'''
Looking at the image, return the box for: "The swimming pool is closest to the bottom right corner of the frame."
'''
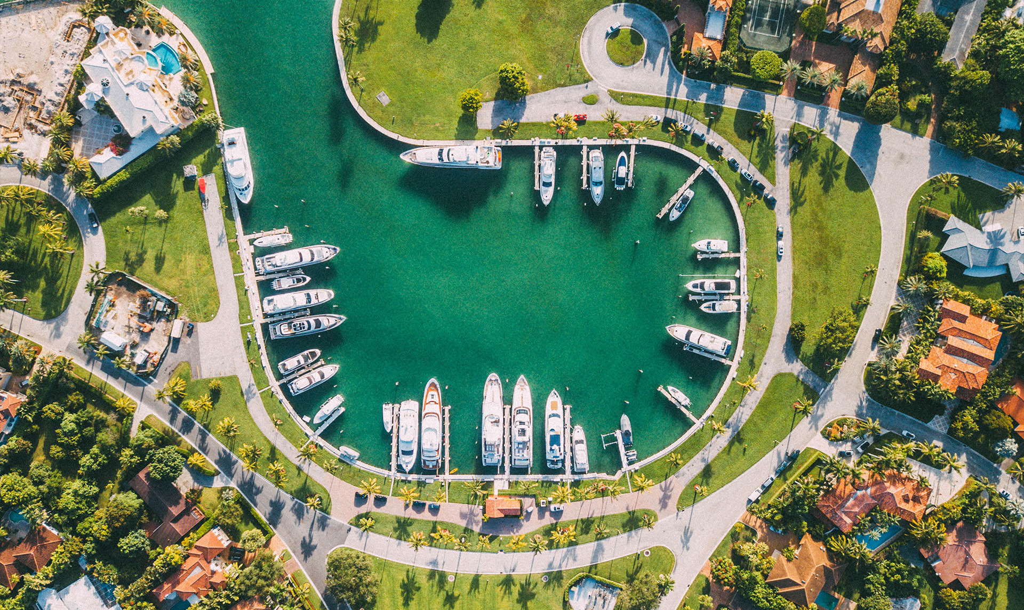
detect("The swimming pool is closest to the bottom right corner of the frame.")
[858,523,902,550]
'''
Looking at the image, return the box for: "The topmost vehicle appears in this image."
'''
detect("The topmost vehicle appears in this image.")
[606,23,622,35]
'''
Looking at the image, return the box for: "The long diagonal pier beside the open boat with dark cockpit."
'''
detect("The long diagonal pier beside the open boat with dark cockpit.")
[655,166,706,219]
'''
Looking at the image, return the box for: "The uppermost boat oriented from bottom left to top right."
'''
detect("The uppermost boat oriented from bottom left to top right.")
[663,188,695,220]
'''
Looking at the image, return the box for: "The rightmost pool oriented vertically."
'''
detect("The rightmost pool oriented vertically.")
[993,335,1010,367]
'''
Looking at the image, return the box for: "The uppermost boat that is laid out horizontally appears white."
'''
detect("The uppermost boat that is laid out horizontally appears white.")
[401,143,502,171]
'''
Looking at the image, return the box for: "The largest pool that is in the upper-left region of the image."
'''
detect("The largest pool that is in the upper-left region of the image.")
[152,41,182,75]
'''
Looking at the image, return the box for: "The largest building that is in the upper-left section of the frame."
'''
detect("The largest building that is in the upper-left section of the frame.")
[78,13,181,139]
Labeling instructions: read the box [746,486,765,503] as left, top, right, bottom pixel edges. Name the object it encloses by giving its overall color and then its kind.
white vehicle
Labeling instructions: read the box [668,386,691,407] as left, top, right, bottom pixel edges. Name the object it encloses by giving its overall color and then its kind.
white boat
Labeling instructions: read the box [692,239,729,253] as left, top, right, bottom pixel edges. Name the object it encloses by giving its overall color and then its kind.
white boat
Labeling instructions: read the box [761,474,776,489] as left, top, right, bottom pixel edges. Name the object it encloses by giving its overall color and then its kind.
white vehicle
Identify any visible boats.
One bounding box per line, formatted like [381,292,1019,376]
[545,388,566,469]
[314,388,343,423]
[508,376,532,467]
[258,290,335,315]
[254,233,292,247]
[700,300,744,314]
[340,445,359,460]
[663,188,695,220]
[477,373,504,465]
[668,386,691,407]
[692,239,729,253]
[572,424,589,472]
[220,126,256,213]
[254,241,339,274]
[621,415,634,448]
[587,150,610,205]
[271,308,345,339]
[685,273,744,294]
[271,275,311,291]
[401,143,502,171]
[399,399,420,471]
[384,401,393,432]
[421,379,445,476]
[276,349,321,375]
[539,147,556,205]
[613,152,629,191]
[666,318,731,356]
[286,361,339,395]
